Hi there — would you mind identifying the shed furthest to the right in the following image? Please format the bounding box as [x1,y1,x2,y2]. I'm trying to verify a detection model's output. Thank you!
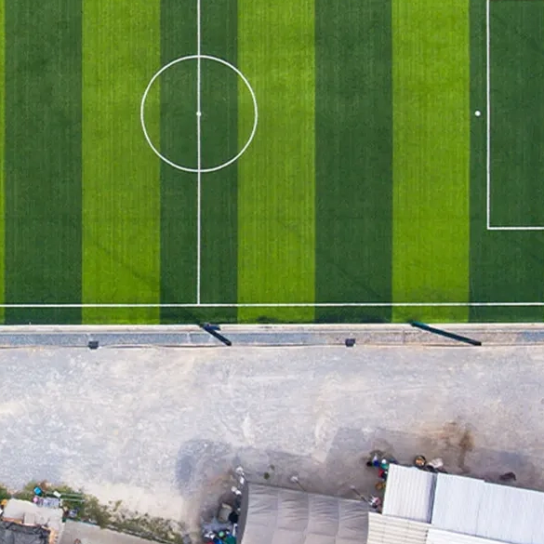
[477,482,544,544]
